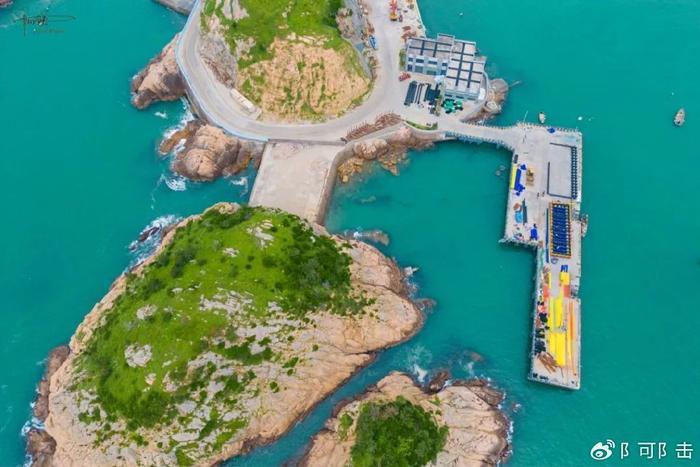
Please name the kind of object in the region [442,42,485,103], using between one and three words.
building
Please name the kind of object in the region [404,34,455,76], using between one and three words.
building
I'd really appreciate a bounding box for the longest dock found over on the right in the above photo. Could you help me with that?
[444,120,582,389]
